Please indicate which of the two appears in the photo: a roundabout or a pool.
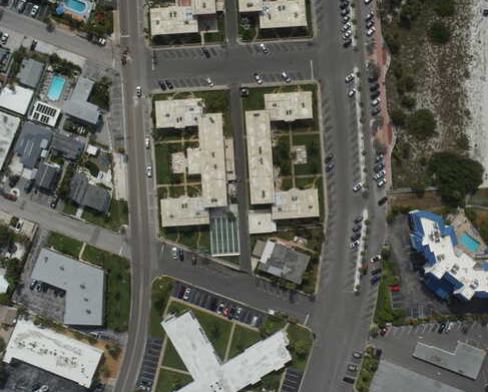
pool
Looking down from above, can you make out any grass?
Yes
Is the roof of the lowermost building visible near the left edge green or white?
white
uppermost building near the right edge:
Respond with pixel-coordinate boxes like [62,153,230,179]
[407,208,488,302]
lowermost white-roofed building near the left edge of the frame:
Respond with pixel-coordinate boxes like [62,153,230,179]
[4,315,107,389]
